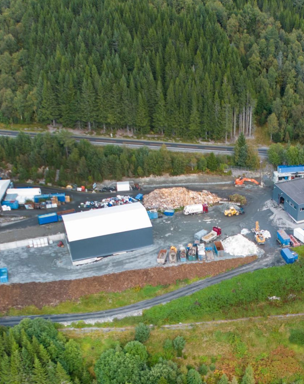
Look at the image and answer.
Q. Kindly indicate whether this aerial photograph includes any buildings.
Yes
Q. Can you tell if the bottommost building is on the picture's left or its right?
left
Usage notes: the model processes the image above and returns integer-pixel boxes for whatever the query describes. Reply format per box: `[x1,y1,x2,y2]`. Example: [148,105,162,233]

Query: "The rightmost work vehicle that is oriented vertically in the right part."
[254,220,266,244]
